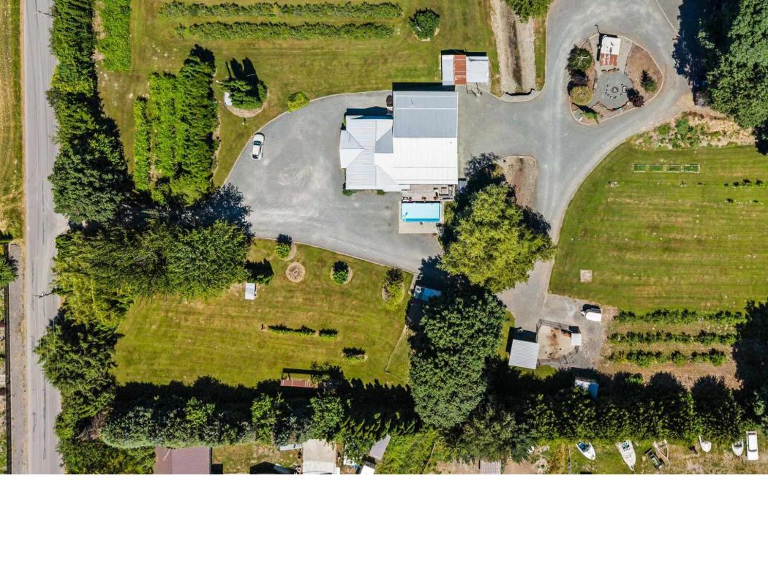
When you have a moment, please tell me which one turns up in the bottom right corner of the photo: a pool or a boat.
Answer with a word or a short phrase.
boat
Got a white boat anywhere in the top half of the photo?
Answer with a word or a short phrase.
No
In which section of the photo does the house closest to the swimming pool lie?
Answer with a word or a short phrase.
top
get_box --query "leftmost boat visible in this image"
[575,445,593,463]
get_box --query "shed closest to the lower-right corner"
[574,377,599,397]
